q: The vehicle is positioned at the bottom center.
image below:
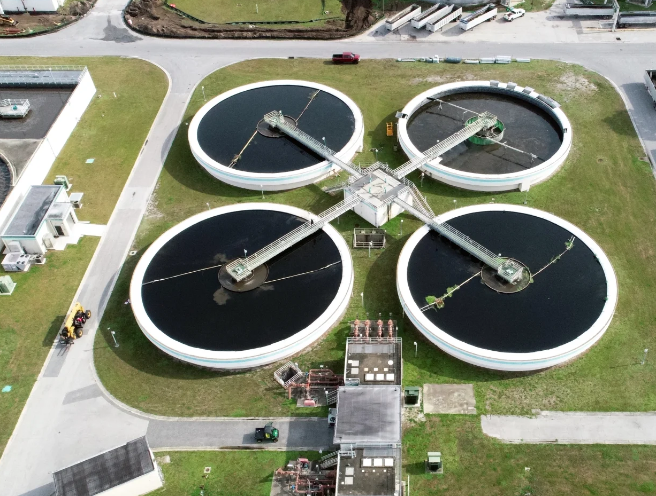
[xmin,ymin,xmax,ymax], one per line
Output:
[254,424,282,442]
